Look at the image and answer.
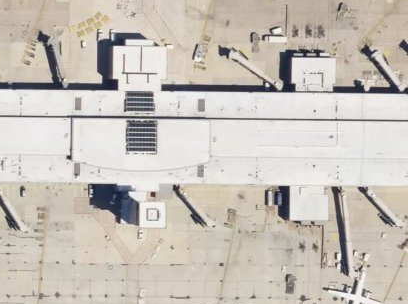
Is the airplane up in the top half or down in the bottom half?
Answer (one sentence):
The airplane is in the bottom half of the image.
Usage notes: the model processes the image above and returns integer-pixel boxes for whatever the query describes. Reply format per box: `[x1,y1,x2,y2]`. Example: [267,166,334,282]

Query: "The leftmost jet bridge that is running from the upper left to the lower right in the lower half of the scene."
[0,187,30,235]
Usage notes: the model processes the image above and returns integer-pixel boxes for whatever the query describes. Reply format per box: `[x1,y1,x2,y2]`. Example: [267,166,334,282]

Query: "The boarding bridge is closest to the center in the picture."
[174,184,218,230]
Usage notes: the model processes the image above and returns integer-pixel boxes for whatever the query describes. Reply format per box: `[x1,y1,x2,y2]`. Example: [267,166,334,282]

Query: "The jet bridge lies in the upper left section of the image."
[47,39,68,90]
